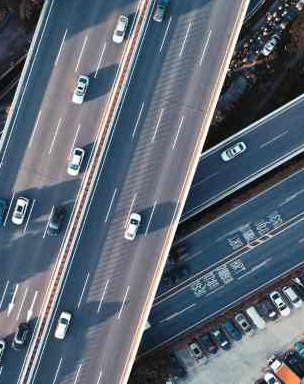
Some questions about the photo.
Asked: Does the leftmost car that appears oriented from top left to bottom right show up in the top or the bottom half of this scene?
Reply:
bottom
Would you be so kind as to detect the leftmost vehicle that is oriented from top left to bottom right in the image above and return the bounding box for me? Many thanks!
[185,337,207,363]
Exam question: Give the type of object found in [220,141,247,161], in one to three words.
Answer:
car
